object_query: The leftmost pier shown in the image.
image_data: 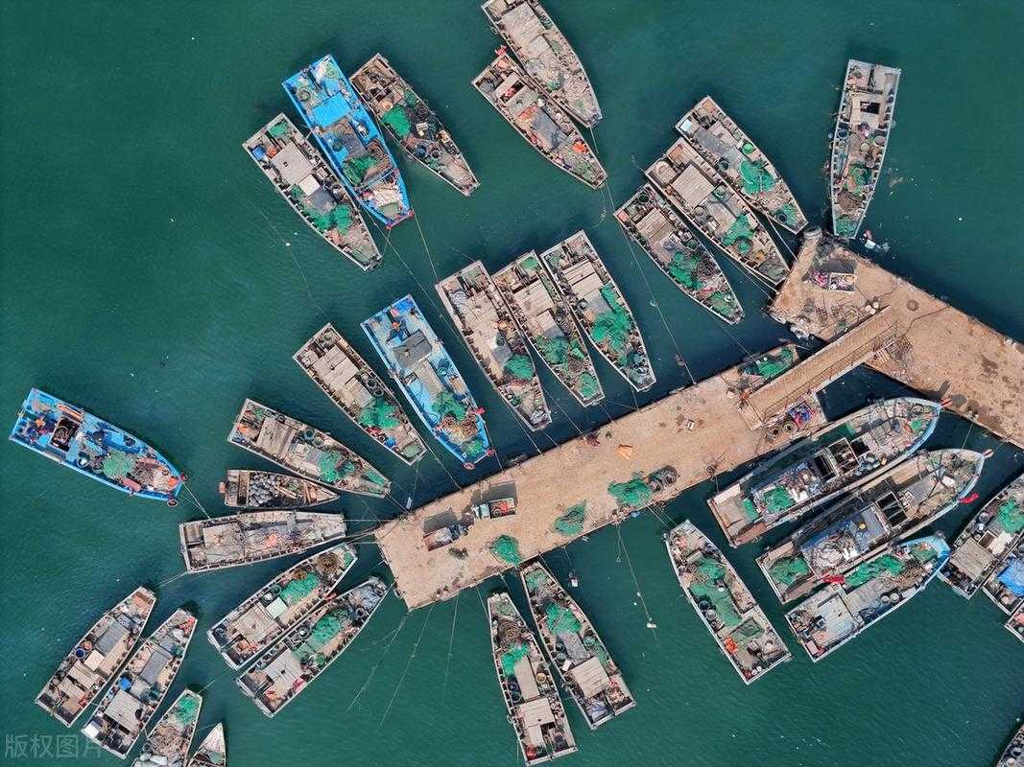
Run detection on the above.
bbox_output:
[374,372,765,612]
